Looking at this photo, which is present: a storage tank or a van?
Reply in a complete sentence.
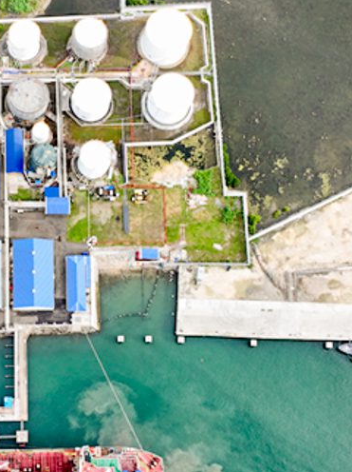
It is a storage tank that can be seen here.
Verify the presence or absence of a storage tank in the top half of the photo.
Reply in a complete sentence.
Yes, you'll find a storage tank in the top half of the photo.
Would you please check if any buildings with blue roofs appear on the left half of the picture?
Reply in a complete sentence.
Yes, the scene does show a building with a blue roof on the left half of the picture.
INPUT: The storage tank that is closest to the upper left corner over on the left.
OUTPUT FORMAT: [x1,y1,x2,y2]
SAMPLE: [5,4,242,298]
[0,21,48,69]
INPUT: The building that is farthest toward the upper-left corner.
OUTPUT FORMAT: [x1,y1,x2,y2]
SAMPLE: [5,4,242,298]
[5,128,23,177]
